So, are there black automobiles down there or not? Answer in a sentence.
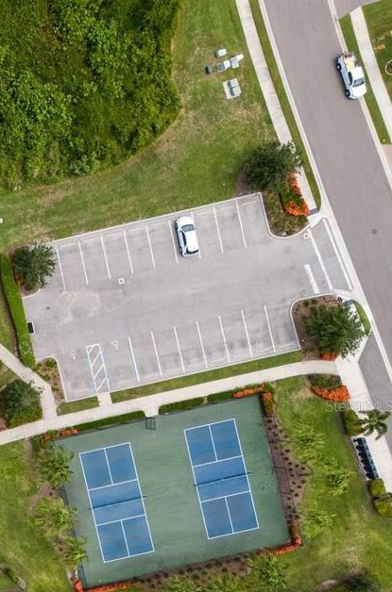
No, there appears to be no black automobile in this shot.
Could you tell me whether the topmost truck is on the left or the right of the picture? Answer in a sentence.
The topmost truck is on the right side of the image.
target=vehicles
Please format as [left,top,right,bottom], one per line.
[174,215,202,257]
[339,47,371,98]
